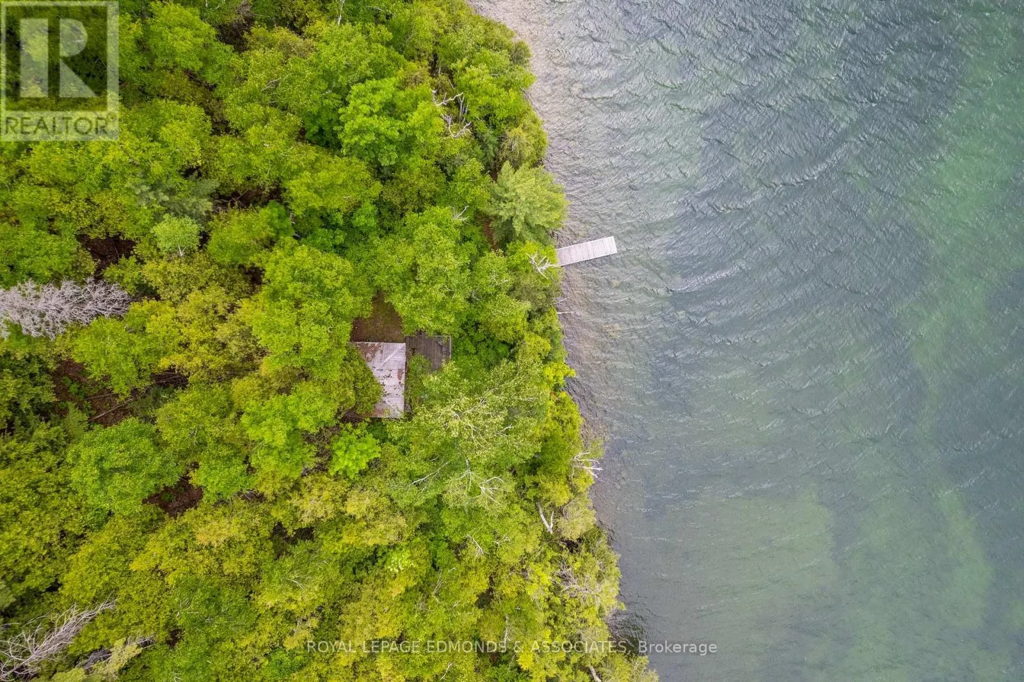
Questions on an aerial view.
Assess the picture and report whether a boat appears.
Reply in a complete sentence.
No, there isn't any boat down there.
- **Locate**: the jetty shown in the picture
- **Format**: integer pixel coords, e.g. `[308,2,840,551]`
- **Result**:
[548,236,618,267]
